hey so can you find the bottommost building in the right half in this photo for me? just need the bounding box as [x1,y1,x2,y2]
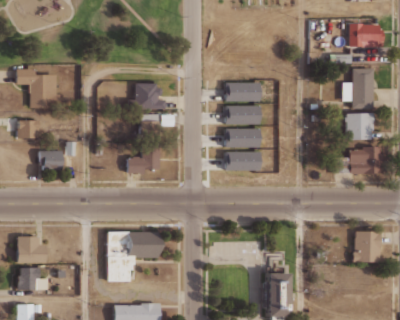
[270,274,293,320]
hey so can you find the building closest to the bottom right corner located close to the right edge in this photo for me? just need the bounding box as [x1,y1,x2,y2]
[354,232,383,264]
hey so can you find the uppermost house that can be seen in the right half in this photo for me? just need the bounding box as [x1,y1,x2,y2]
[350,24,385,47]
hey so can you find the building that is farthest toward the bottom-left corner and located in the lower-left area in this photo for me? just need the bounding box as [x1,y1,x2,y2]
[16,305,42,320]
